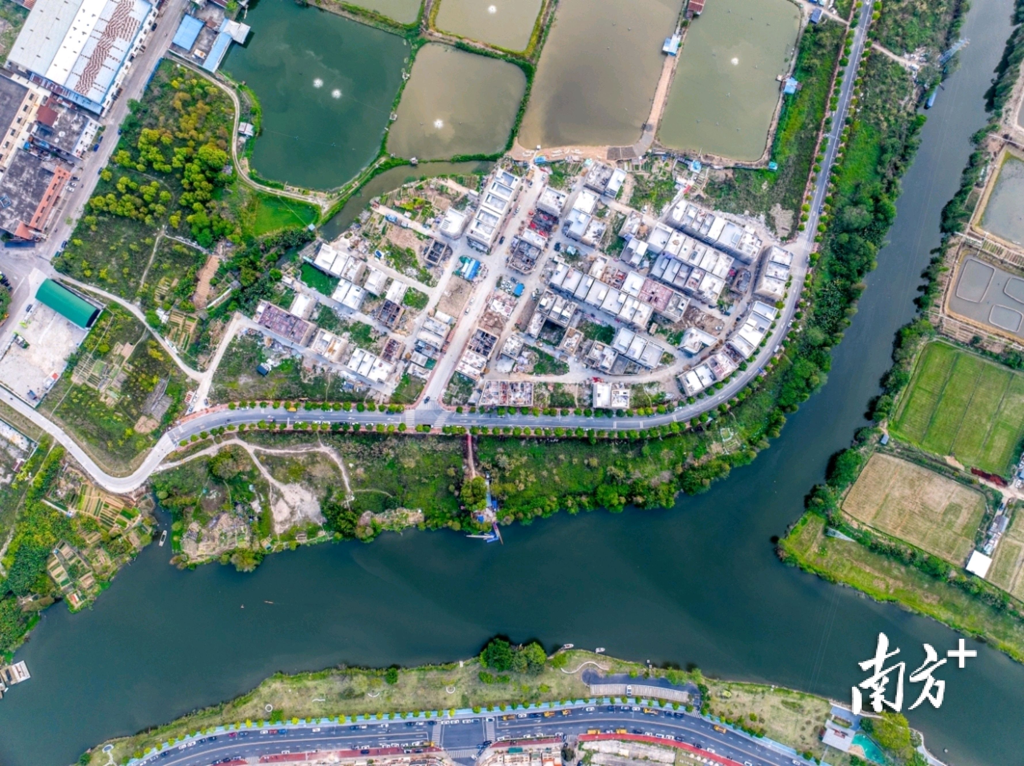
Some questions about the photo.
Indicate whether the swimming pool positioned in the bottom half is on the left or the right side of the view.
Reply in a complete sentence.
The swimming pool positioned in the bottom half is on the right side of the image.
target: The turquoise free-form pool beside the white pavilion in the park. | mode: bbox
[851,733,885,765]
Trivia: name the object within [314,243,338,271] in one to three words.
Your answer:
house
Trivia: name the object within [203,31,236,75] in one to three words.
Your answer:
shed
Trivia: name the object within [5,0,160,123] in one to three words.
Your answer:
building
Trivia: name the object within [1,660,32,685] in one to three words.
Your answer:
ship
